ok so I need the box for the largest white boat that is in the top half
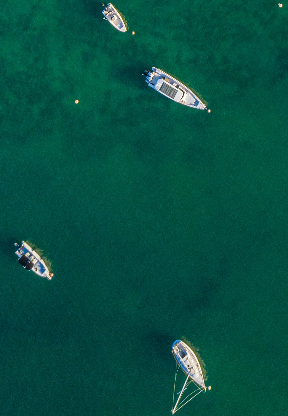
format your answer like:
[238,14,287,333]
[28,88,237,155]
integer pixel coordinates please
[144,66,207,109]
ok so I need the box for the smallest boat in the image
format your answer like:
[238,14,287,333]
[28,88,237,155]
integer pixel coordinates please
[102,2,127,32]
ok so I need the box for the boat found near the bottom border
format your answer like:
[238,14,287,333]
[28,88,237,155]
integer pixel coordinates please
[173,334,206,414]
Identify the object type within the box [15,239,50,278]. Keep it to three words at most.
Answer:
boat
